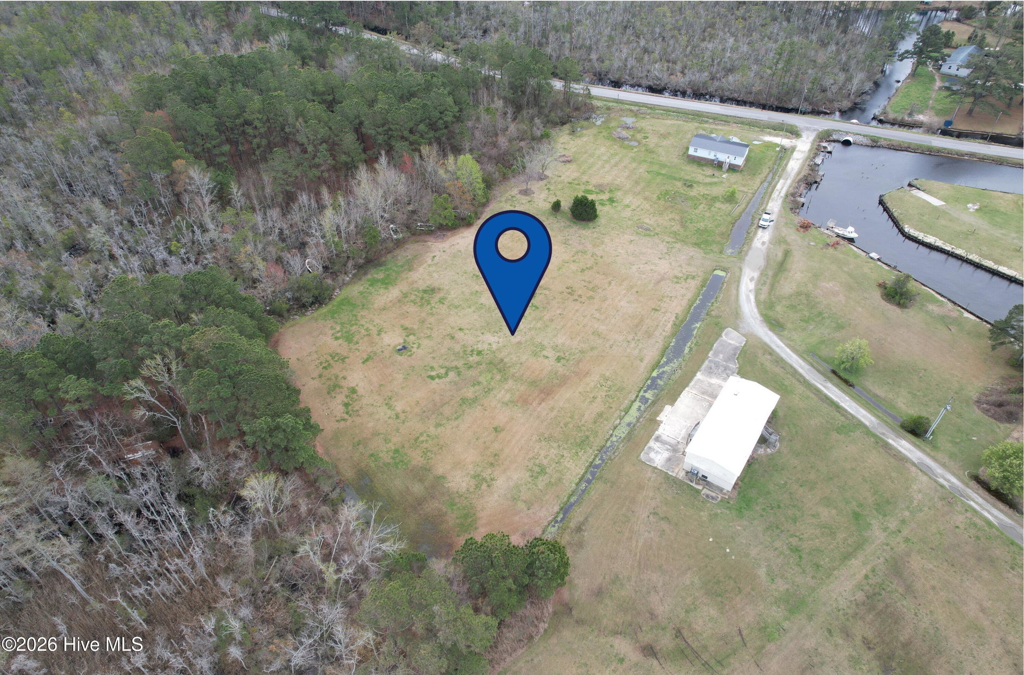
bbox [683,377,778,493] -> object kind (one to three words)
building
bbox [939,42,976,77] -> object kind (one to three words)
house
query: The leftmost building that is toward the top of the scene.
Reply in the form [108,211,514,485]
[688,133,751,169]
